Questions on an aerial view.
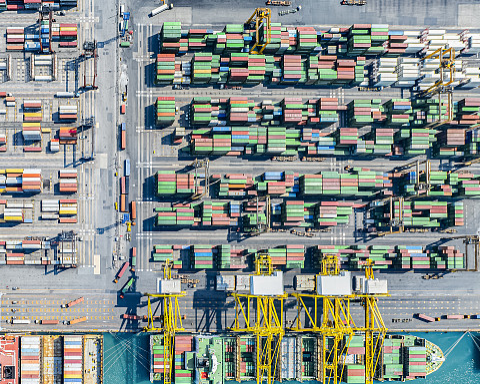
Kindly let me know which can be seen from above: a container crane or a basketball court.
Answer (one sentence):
The image shows a container crane.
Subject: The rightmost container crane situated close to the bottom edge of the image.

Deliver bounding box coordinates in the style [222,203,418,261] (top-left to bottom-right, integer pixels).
[335,262,397,384]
